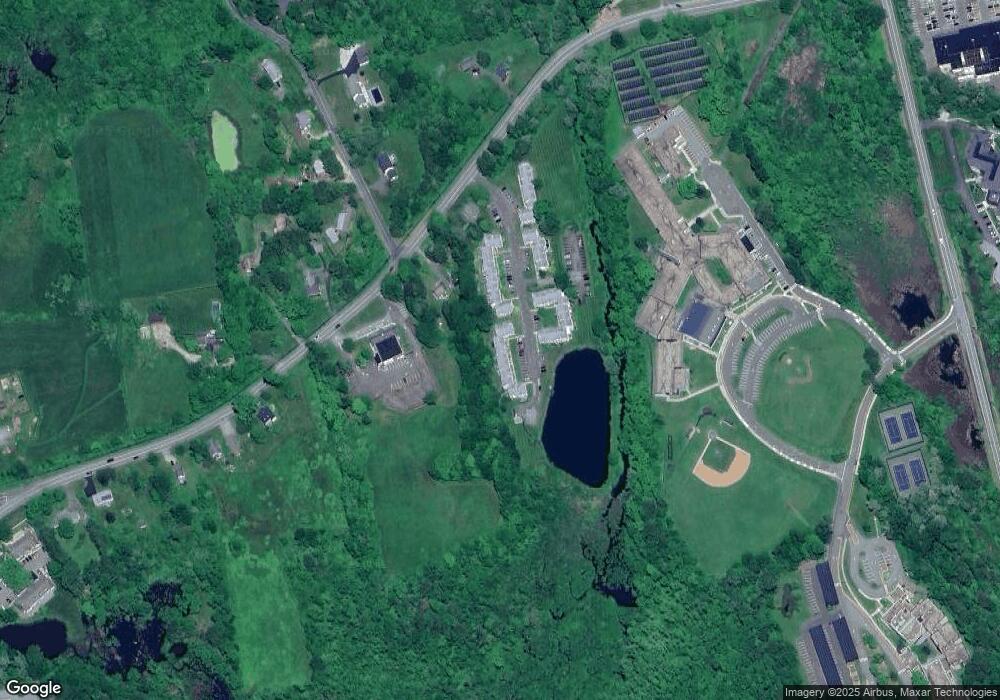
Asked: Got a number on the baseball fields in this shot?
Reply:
2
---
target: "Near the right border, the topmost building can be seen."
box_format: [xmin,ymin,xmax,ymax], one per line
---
[933,22,1000,82]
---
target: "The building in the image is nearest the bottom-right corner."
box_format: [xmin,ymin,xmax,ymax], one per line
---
[882,585,969,700]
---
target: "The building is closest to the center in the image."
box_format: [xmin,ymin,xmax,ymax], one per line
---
[492,321,528,402]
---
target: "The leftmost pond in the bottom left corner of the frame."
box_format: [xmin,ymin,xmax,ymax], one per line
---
[0,617,66,657]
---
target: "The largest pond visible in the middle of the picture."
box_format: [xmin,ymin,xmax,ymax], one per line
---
[542,349,610,488]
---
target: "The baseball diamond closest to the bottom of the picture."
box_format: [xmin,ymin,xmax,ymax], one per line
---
[655,391,841,576]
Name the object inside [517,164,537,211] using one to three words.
building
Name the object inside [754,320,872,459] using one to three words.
baseball field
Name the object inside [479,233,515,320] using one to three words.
building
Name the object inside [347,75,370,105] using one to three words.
house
